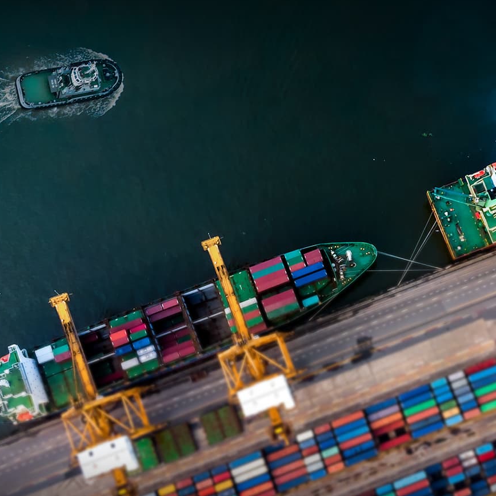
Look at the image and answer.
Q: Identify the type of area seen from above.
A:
port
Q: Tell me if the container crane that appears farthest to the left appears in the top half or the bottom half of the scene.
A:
bottom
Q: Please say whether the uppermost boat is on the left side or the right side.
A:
left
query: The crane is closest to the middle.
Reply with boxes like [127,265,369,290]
[202,234,310,438]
